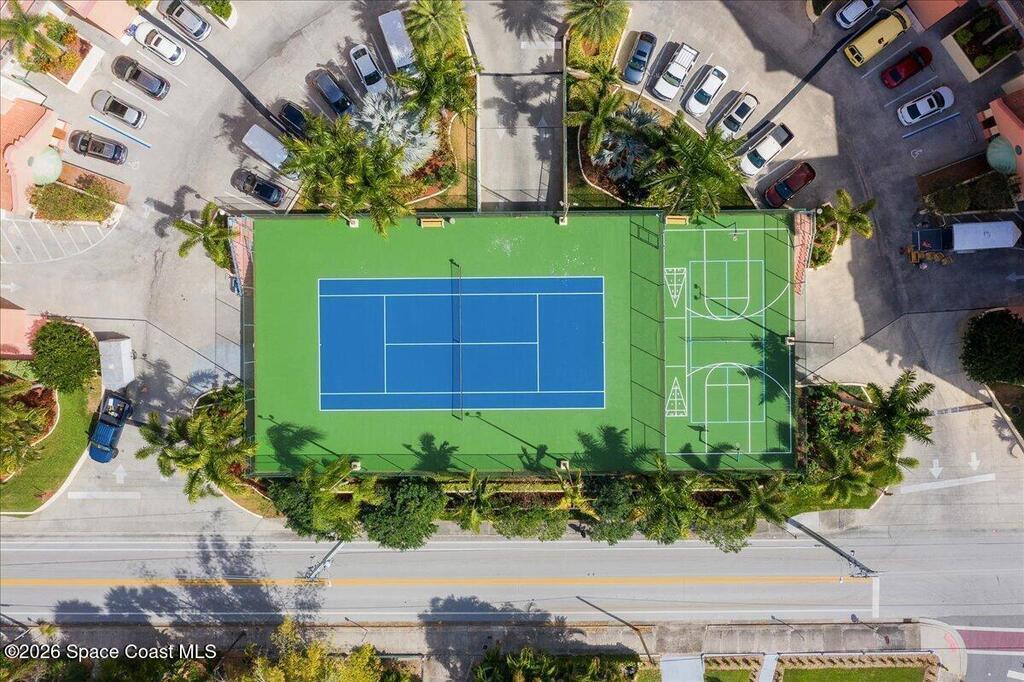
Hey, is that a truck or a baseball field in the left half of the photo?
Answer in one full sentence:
There is a truck in the left half of the photo.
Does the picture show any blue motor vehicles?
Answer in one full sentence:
Yes, the image includes a blue motor vehicle.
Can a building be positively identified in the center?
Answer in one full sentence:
No, there is no building in the center.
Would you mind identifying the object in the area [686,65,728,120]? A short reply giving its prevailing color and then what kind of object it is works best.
white car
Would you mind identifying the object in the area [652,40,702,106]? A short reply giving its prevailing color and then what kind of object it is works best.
white truck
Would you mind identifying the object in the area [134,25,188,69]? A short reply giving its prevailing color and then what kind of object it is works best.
white car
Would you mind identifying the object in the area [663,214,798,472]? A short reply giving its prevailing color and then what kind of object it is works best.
green basketball court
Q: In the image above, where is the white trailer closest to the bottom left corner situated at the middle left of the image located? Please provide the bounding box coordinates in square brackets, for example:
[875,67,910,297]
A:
[99,341,138,395]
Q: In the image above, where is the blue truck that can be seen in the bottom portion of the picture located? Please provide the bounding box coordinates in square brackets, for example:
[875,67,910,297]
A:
[91,392,135,463]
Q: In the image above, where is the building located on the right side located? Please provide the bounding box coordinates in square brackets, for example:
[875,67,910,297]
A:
[962,81,1024,219]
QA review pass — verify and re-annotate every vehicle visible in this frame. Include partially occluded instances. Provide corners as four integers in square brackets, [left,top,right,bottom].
[652,40,702,106]
[308,71,359,124]
[113,58,173,102]
[879,48,932,90]
[737,120,797,180]
[239,123,305,184]
[716,91,760,142]
[134,25,188,69]
[896,87,953,127]
[624,32,656,87]
[762,161,817,209]
[836,8,908,73]
[353,44,389,100]
[375,5,418,85]
[686,65,728,120]
[91,392,135,463]
[231,170,287,209]
[93,91,150,129]
[831,0,886,34]
[157,0,211,42]
[71,131,129,166]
